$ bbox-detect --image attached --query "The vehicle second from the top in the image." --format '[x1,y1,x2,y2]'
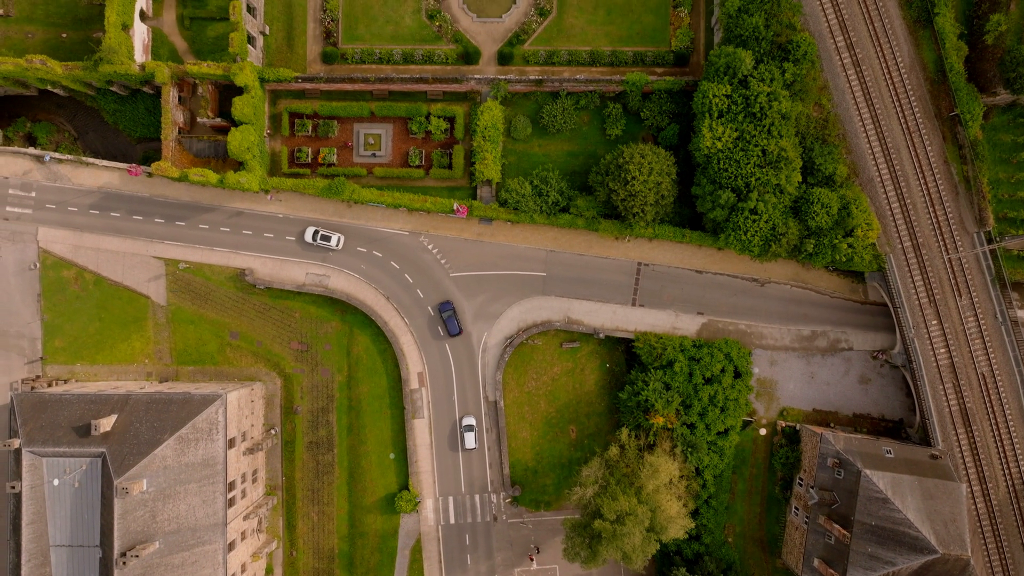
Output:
[439,299,463,338]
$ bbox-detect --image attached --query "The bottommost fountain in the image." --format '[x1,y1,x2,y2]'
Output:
[354,123,393,163]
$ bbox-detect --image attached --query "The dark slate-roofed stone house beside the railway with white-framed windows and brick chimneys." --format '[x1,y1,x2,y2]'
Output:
[781,425,976,576]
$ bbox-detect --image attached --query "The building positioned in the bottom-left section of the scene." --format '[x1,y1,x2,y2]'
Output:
[0,380,276,576]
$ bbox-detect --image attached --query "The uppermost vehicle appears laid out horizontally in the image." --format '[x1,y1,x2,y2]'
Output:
[305,227,346,250]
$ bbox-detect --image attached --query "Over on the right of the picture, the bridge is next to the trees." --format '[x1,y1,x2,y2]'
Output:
[866,220,1024,461]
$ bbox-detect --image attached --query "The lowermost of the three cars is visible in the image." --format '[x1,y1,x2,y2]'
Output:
[459,413,478,451]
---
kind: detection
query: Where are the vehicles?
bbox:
[439,299,463,338]
[305,227,346,250]
[459,413,478,451]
